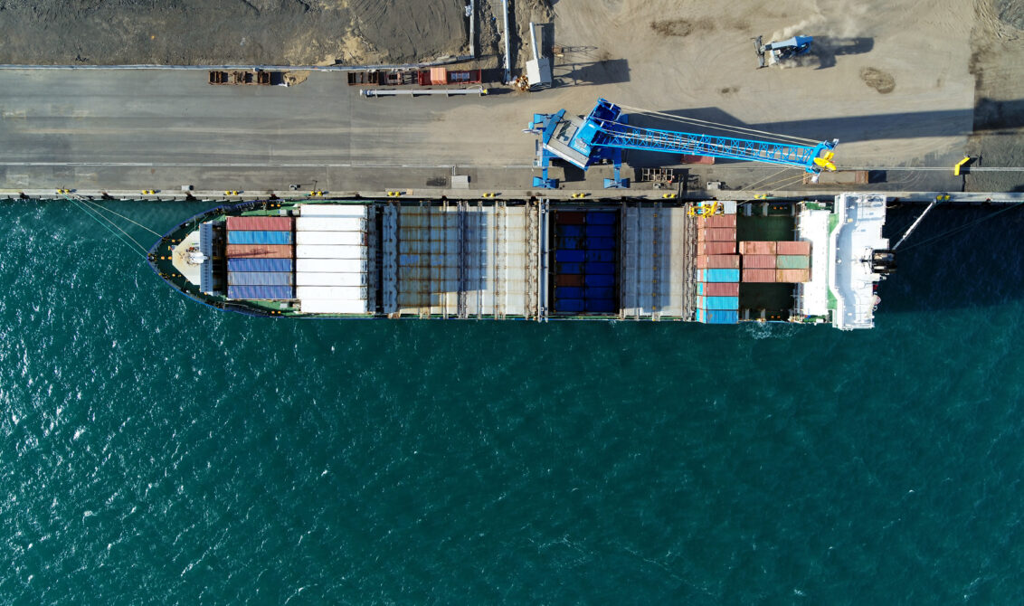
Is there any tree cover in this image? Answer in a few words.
No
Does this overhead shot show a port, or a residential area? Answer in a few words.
port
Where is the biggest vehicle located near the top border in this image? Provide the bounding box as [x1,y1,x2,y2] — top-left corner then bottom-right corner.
[758,29,817,68]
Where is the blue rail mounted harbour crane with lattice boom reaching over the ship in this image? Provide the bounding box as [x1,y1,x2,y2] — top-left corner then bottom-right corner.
[530,93,844,212]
